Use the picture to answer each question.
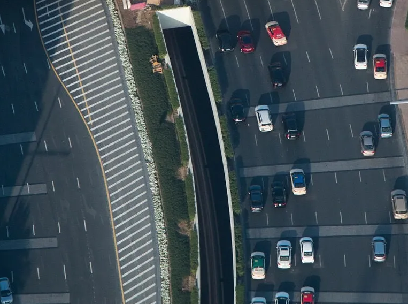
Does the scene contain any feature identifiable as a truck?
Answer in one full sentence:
No, the frame has no truck in it.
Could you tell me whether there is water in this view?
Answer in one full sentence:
No, the picture contains no water.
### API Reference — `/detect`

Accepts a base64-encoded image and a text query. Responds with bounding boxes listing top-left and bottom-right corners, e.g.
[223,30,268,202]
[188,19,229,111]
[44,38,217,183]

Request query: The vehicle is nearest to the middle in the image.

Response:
[230,99,245,123]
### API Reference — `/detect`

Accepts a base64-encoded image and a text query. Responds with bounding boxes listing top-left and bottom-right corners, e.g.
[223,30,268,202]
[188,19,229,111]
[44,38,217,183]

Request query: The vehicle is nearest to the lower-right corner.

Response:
[371,237,387,264]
